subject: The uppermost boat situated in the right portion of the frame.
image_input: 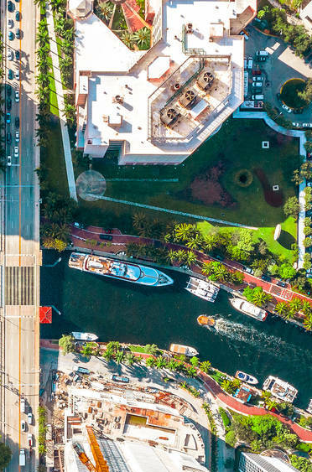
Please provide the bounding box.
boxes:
[183,275,221,301]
